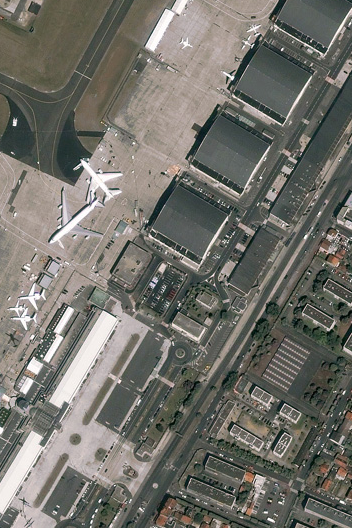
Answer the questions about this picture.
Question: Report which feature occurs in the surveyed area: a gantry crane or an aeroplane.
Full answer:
This aerial view contains an aeroplane.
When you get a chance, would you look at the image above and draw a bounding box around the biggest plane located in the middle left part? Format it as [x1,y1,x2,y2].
[50,188,106,243]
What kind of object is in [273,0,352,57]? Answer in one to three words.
hangar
